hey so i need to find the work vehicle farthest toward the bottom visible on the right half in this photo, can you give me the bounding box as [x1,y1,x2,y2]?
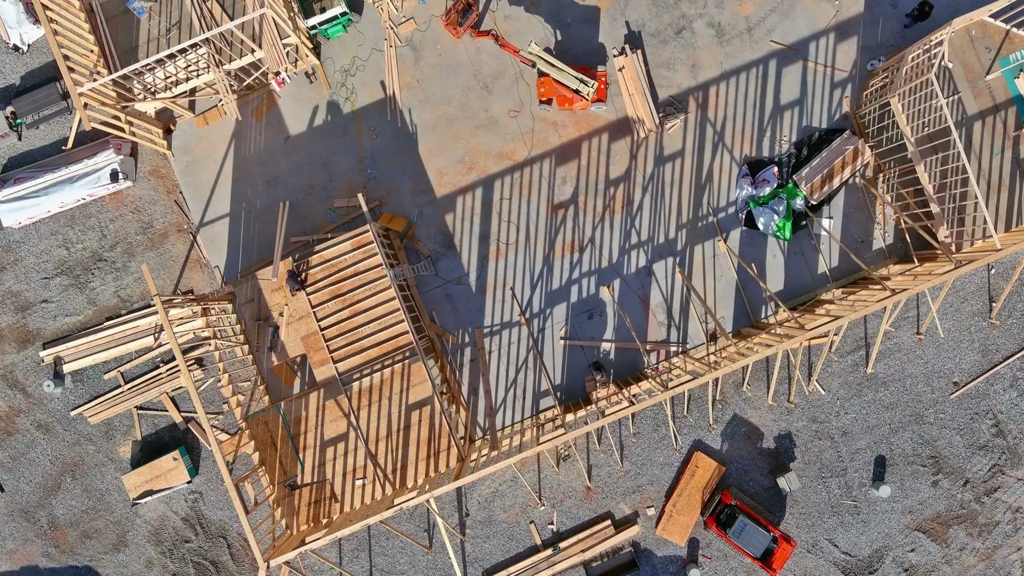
[697,485,800,576]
